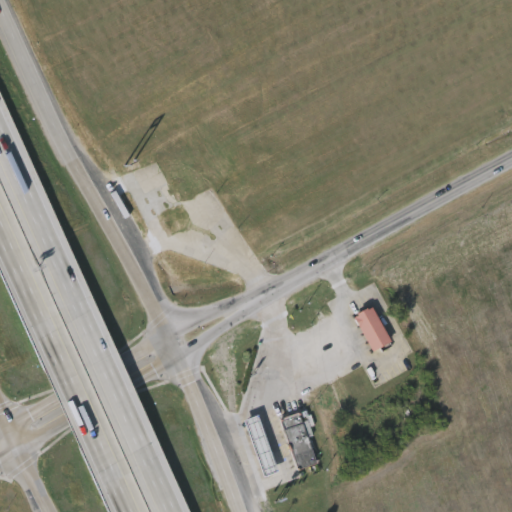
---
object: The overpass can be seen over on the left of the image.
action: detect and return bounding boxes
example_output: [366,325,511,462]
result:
[0,92,190,512]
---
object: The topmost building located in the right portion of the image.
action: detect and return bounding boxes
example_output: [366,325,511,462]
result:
[356,309,392,352]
